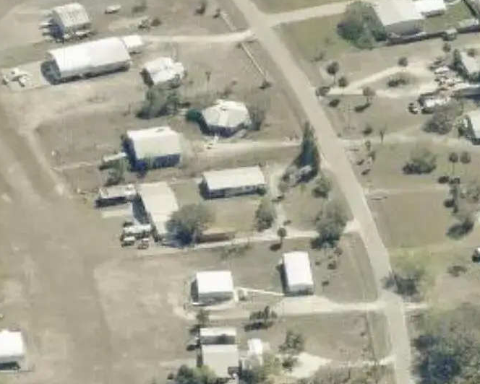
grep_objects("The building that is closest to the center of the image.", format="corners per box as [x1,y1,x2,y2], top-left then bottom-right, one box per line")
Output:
[204,167,265,196]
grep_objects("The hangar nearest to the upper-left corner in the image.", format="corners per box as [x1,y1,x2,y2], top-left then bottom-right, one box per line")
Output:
[52,3,89,33]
